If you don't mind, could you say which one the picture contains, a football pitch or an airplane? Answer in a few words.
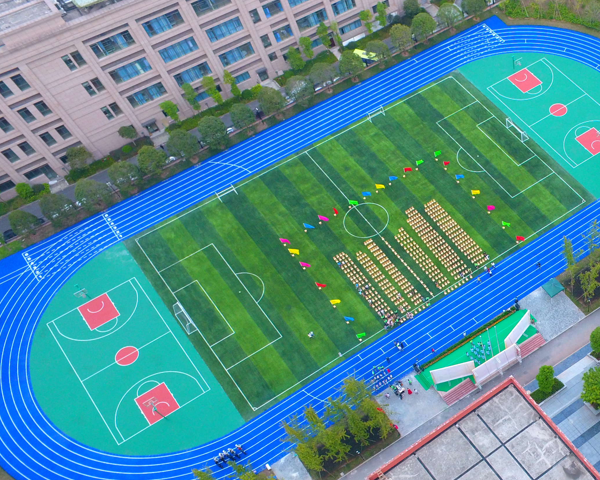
football pitch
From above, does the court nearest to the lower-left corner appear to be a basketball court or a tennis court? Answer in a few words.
basketball court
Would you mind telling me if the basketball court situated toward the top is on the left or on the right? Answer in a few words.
right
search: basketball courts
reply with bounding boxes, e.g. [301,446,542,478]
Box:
[31,241,245,453]
[457,53,600,200]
